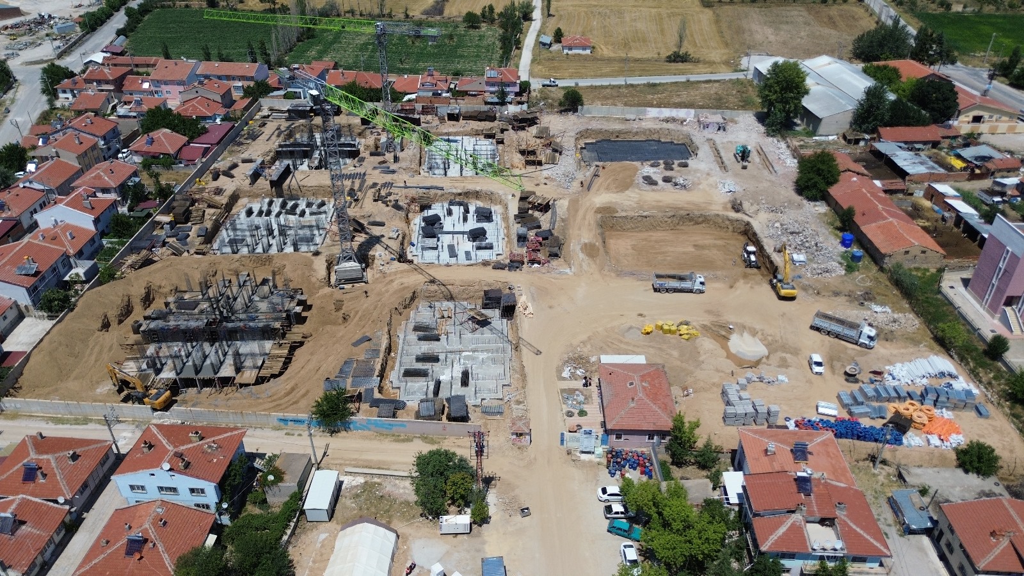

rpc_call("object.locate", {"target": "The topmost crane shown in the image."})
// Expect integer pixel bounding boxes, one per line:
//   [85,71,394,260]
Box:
[204,11,442,152]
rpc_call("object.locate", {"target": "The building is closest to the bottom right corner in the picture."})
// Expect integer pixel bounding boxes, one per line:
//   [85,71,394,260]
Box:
[921,478,1024,576]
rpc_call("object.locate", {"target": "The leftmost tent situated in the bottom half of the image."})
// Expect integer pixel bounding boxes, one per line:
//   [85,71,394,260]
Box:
[321,486,407,576]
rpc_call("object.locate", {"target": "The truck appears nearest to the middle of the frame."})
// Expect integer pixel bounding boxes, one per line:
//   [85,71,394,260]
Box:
[653,269,708,293]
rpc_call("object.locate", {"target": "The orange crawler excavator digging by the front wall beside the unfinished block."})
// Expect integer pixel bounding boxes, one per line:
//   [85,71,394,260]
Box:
[102,359,172,405]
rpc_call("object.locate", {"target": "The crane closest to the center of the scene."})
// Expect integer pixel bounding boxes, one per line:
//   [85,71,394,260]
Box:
[288,62,530,282]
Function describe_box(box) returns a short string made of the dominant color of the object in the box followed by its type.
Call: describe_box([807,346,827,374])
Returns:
white vehicle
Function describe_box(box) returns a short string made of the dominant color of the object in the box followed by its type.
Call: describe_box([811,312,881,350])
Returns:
gray truck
